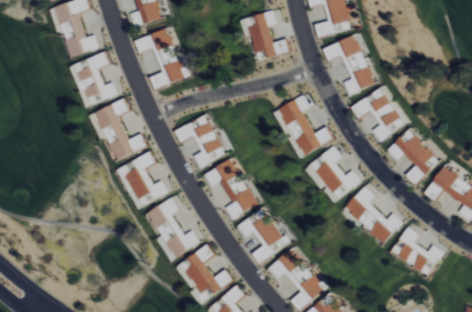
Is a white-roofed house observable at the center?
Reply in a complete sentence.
Yes, a white-roofed house appears at the center.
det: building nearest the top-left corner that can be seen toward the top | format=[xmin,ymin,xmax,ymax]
[46,0,100,58]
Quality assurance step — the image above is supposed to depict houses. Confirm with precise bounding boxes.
[424,158,472,224]
[310,286,360,312]
[272,92,336,158]
[391,223,448,276]
[145,194,206,260]
[318,30,382,98]
[124,0,170,26]
[206,282,258,312]
[264,242,329,312]
[305,0,362,36]
[87,100,146,162]
[116,150,173,206]
[46,0,100,58]
[237,10,293,62]
[68,52,122,106]
[305,144,366,203]
[171,246,232,304]
[169,112,234,170]
[385,128,446,186]
[234,203,293,264]
[348,82,414,144]
[130,23,192,90]
[341,182,408,243]
[200,152,266,222]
